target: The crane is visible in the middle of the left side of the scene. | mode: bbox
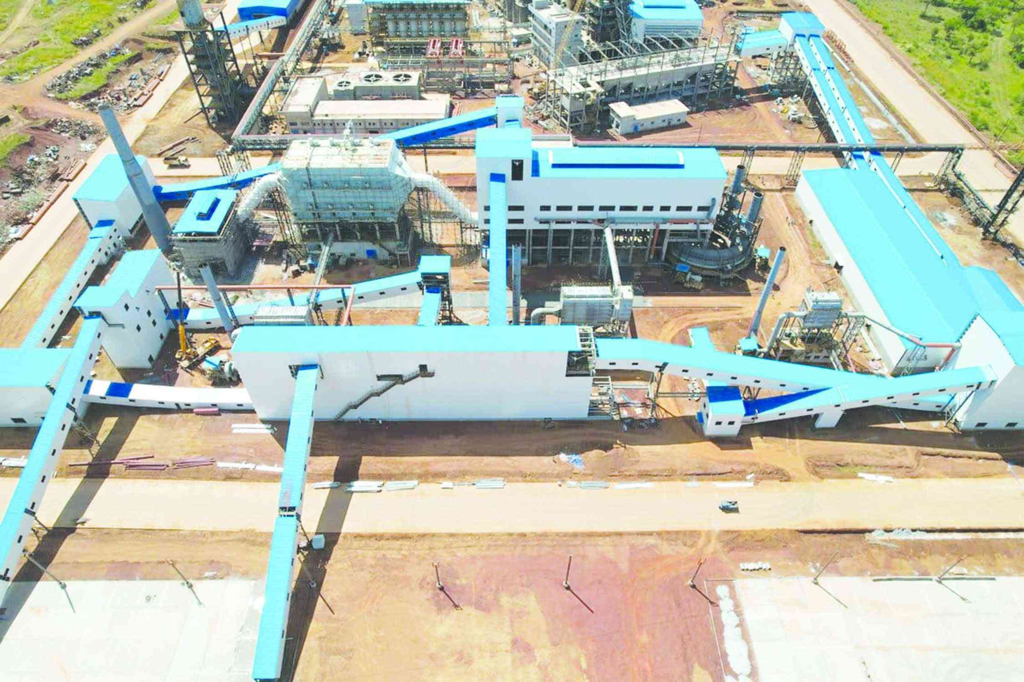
[174,267,214,370]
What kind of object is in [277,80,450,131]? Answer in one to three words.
building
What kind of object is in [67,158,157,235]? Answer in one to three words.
building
